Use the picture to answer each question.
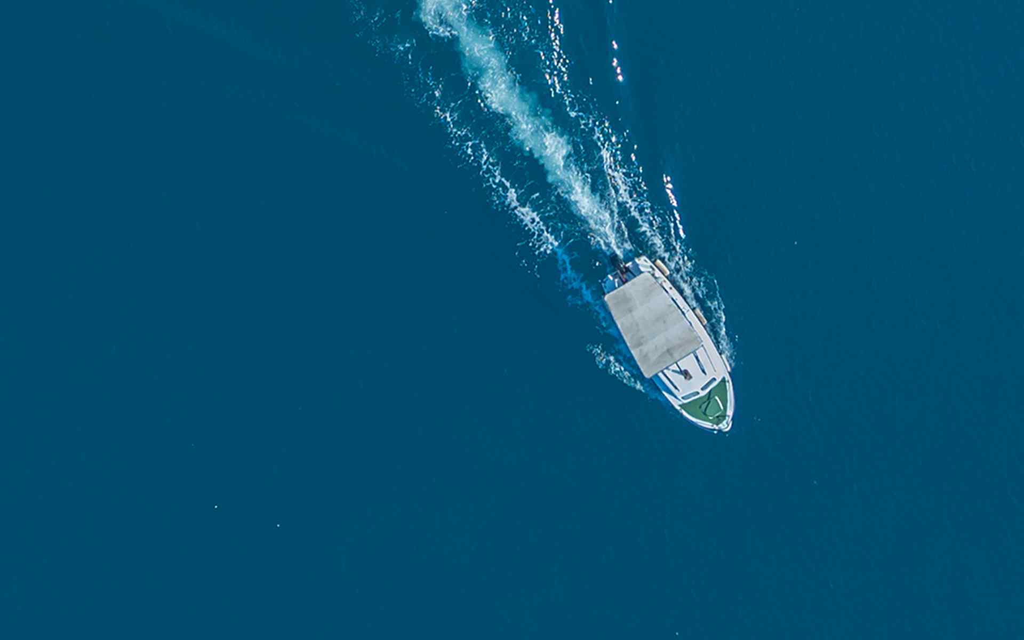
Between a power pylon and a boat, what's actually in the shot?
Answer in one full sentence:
The image shows a boat.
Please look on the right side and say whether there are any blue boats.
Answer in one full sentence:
No, there is no blue boat on the right side.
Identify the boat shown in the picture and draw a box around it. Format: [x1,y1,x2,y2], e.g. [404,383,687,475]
[602,256,736,433]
